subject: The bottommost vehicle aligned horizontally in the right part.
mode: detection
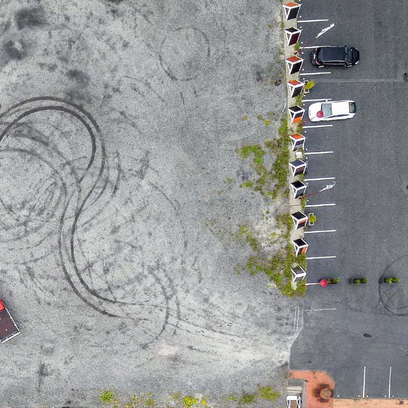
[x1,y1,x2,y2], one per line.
[309,98,360,123]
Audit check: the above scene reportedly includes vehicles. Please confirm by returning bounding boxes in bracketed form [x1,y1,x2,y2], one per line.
[309,98,360,123]
[313,42,362,67]
[0,301,22,346]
